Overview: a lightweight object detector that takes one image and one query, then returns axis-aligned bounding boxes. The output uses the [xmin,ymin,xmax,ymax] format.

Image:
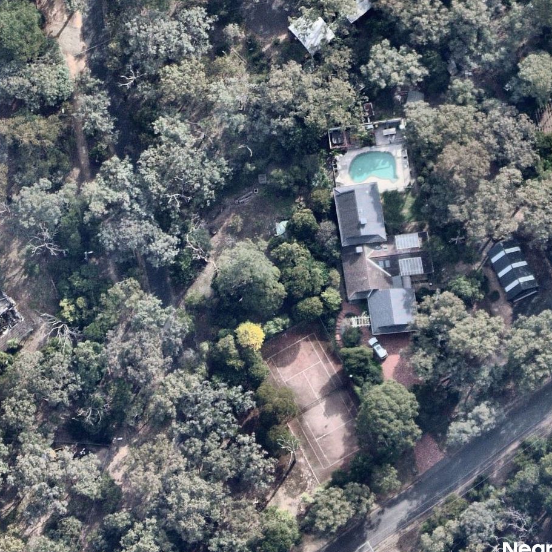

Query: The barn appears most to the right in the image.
[486,239,538,302]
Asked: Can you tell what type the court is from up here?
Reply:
tennis court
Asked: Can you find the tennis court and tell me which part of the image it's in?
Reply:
bottom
